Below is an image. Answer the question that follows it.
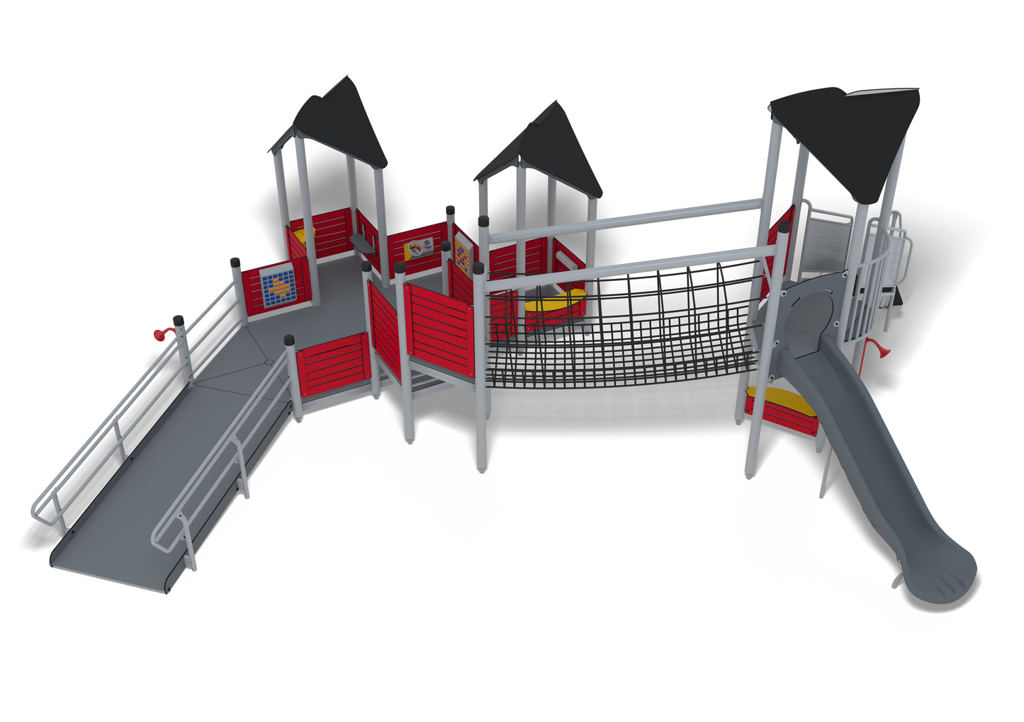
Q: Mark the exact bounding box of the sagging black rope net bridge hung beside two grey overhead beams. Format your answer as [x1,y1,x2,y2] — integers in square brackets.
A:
[482,198,777,390]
